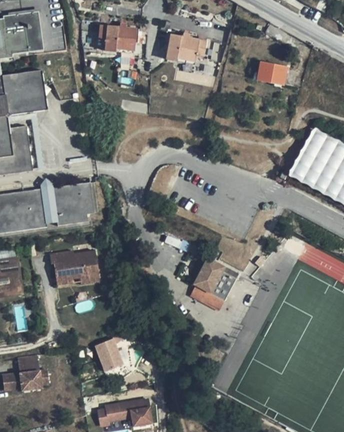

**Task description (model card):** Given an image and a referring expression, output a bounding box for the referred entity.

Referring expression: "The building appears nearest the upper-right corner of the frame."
[258,62,290,86]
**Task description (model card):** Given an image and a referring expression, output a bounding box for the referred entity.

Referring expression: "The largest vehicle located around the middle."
[165,236,188,250]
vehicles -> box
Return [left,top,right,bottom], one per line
[204,184,212,194]
[165,236,188,250]
[170,298,179,308]
[212,24,223,30]
[200,22,212,28]
[184,170,192,182]
[0,393,9,398]
[165,28,175,34]
[179,305,188,314]
[208,186,216,196]
[192,20,200,27]
[192,174,200,186]
[313,12,322,22]
[191,204,198,214]
[52,15,64,21]
[196,178,204,188]
[52,22,62,27]
[178,197,187,208]
[50,10,62,15]
[306,8,316,20]
[170,192,178,202]
[184,198,194,211]
[26,118,32,128]
[179,168,186,178]
[300,6,308,16]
